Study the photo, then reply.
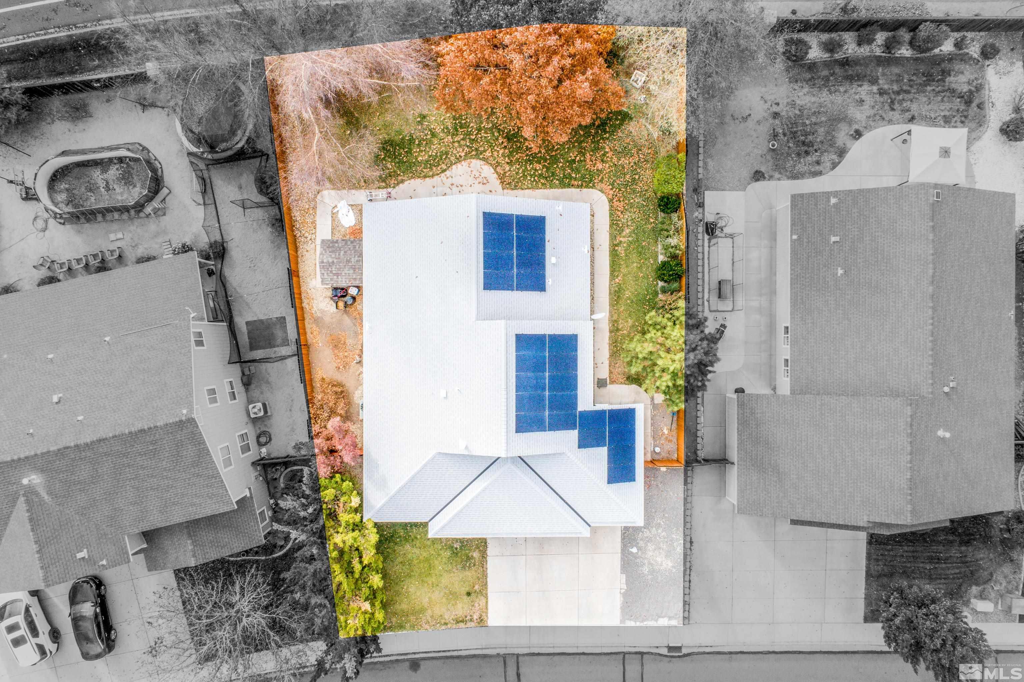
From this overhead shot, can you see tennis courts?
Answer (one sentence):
No, the photo shows no tennis court.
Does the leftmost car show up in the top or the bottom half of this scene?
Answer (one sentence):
The leftmost car sits in the bottom half of the picture.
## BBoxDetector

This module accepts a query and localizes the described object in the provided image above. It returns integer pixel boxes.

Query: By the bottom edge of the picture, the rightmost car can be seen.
[66,577,119,657]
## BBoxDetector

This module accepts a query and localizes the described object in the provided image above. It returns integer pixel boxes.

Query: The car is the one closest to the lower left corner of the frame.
[0,589,61,664]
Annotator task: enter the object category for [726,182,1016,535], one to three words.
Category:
house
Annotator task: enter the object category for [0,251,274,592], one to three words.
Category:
house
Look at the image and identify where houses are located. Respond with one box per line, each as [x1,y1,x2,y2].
[362,194,645,539]
[726,182,1016,535]
[0,251,274,592]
